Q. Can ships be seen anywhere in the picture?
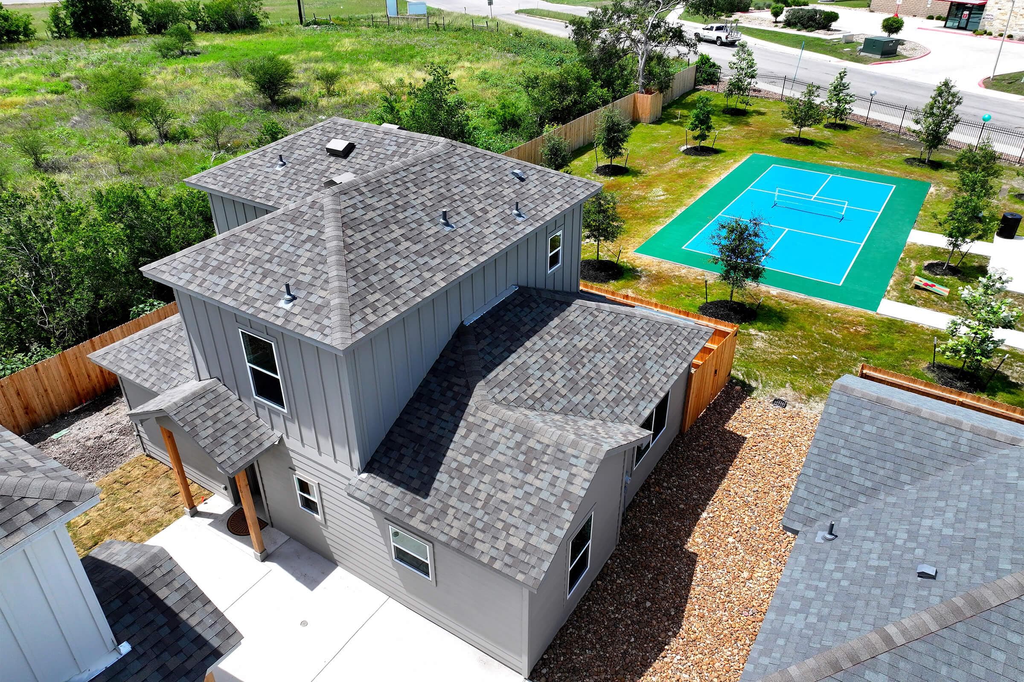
No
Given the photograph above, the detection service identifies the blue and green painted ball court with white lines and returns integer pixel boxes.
[630,154,932,316]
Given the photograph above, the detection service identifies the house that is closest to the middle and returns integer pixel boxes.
[86,116,717,682]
